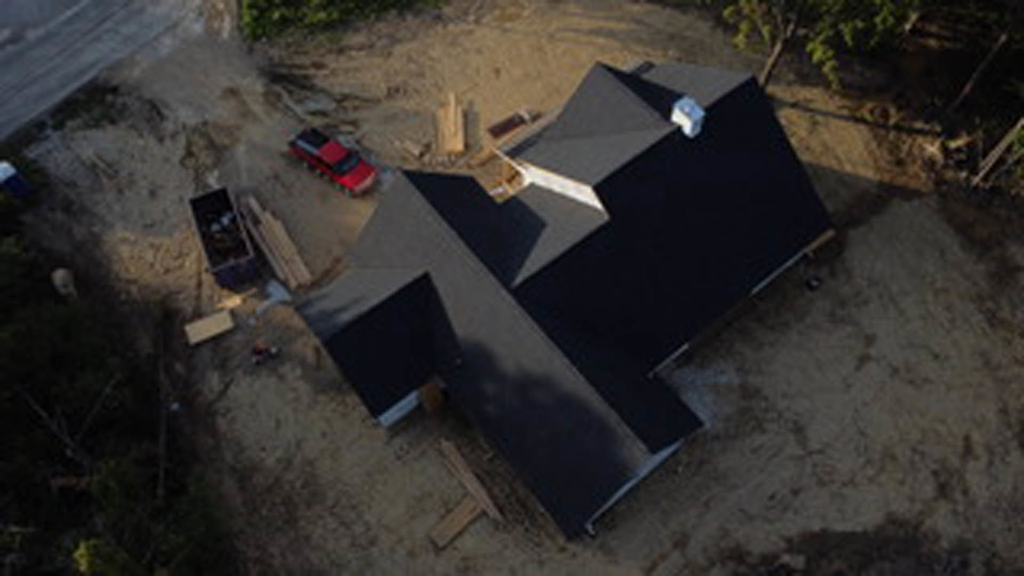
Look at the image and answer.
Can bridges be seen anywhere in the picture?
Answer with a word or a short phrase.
No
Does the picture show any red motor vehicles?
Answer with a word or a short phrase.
Yes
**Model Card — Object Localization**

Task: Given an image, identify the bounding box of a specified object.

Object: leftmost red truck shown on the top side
[286,124,380,199]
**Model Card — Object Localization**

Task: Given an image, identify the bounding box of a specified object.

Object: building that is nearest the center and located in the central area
[295,62,840,540]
